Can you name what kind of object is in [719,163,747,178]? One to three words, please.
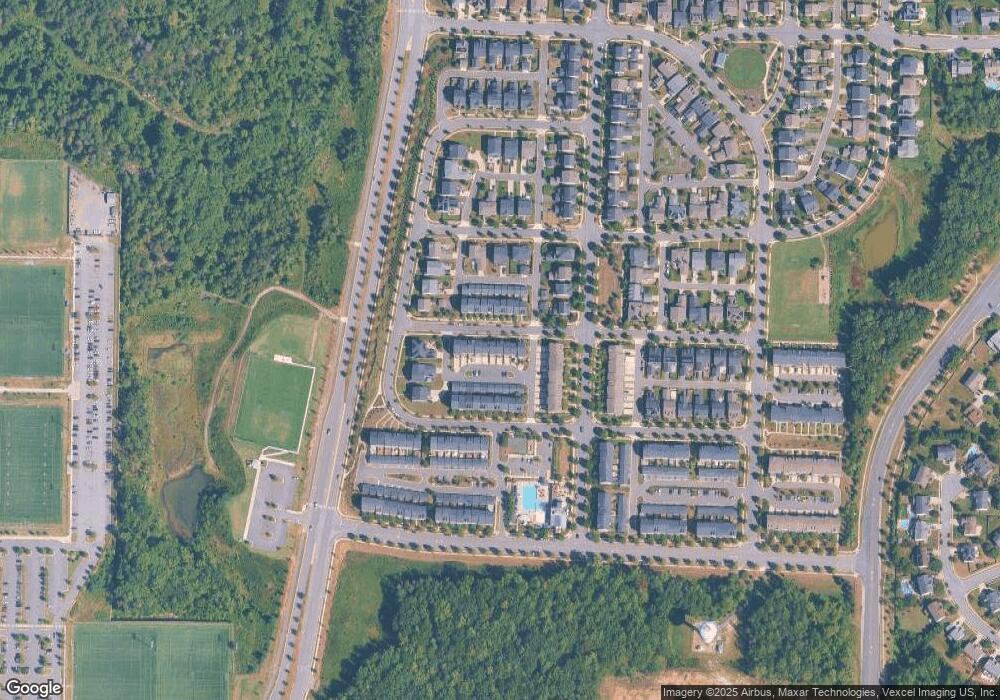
house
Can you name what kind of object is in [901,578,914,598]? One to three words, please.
swimming pool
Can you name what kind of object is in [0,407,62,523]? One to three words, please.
sports field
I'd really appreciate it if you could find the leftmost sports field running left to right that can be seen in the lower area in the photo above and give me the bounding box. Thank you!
[74,623,230,700]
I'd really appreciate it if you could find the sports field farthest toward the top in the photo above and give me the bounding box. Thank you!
[0,160,68,242]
